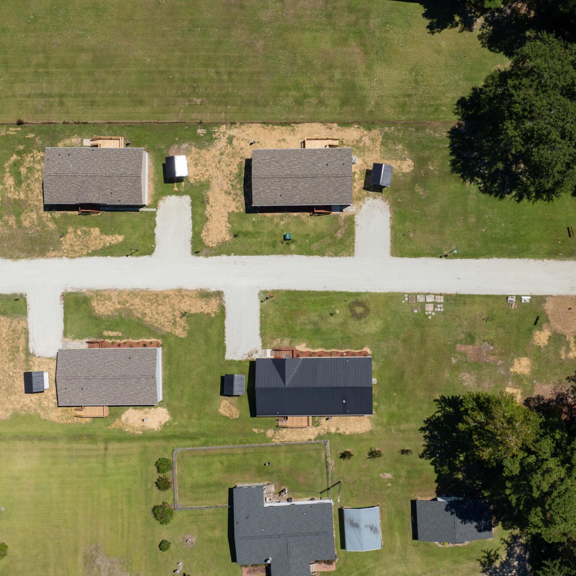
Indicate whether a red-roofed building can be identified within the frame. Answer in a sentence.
No, there's no red-roofed building here.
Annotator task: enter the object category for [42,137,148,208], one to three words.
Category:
house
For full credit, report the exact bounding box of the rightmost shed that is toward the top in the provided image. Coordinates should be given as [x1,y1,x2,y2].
[371,162,393,188]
